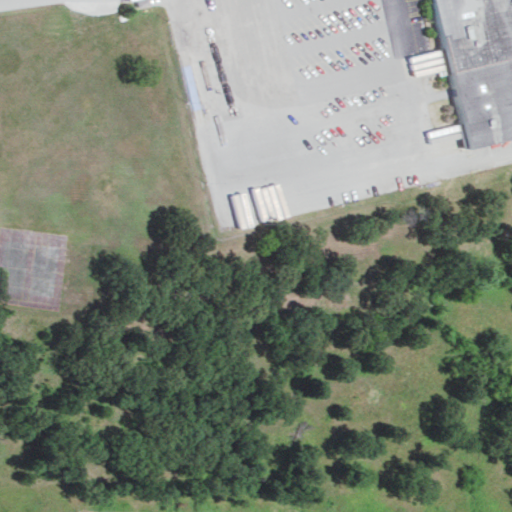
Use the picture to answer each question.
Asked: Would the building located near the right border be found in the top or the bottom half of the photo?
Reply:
top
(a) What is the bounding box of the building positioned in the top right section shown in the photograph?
[434,0,512,148]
